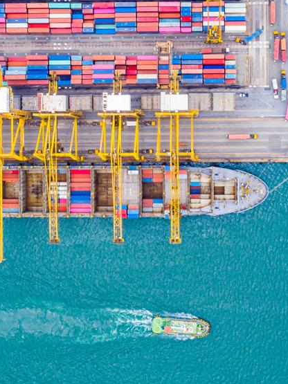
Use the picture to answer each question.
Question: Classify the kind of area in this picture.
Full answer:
What you see here is a port.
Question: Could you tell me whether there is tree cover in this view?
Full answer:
No, no tree cover is visible.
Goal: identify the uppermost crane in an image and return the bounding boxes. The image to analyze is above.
[206,0,228,45]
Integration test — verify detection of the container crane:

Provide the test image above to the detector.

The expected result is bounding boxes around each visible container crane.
[0,64,32,262]
[153,42,176,91]
[33,75,86,244]
[97,75,145,244]
[149,75,197,244]
[206,0,228,45]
